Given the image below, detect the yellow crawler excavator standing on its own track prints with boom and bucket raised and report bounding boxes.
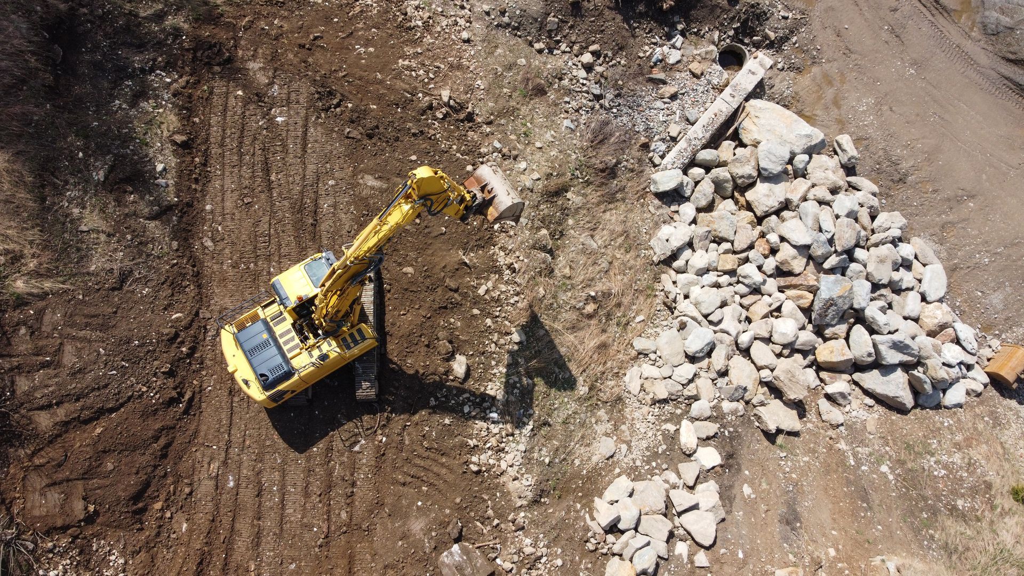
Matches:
[214,156,530,405]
